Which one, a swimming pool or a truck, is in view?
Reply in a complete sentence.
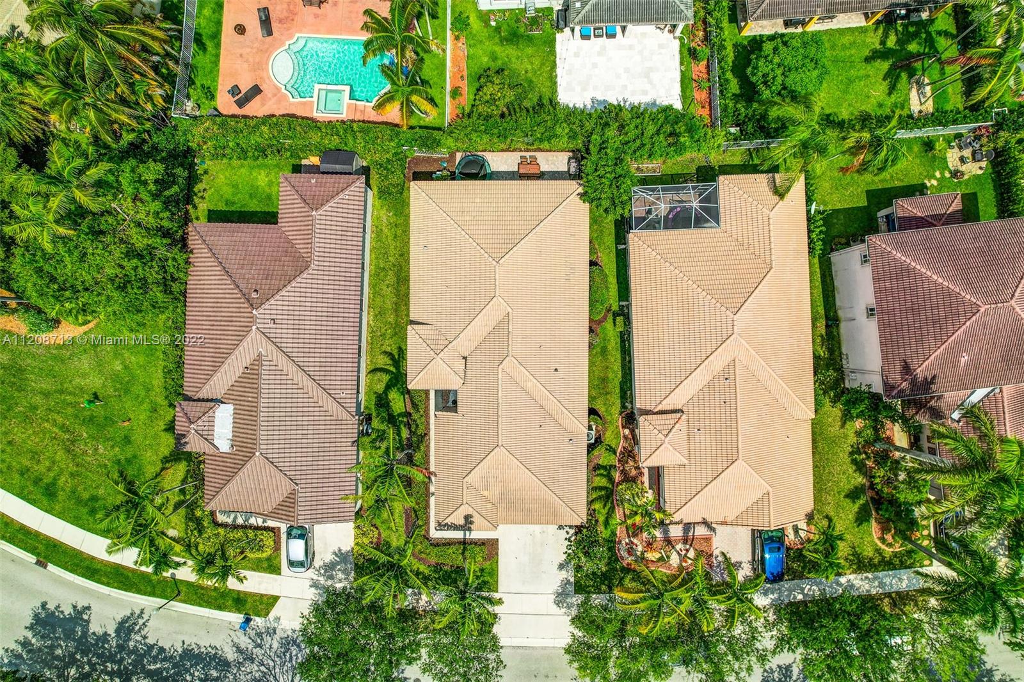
Of the two, only a swimming pool appears.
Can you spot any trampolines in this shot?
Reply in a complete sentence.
No, the photo shows no trampoline.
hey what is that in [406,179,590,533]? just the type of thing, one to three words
house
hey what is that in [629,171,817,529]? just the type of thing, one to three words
house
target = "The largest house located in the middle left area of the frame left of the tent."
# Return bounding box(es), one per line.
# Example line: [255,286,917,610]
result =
[173,172,366,527]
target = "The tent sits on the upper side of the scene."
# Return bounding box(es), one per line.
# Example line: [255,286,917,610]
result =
[458,158,490,181]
